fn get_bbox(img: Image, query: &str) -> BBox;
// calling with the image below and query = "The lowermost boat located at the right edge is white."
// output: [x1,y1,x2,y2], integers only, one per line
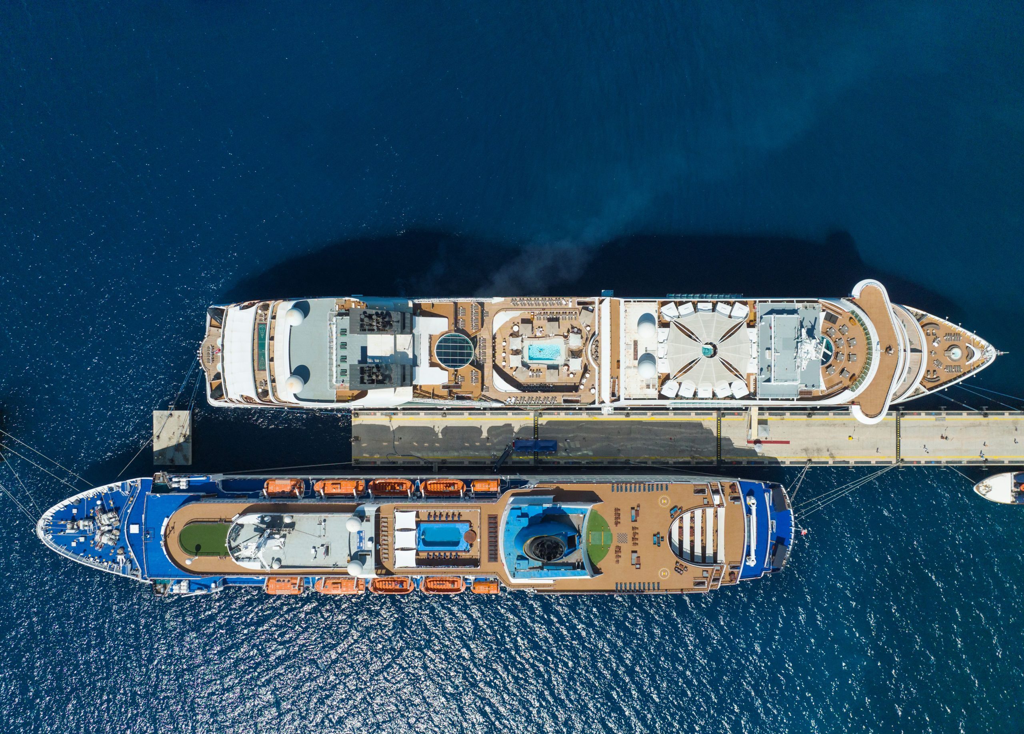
[970,471,1024,505]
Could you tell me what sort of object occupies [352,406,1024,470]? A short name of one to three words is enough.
pier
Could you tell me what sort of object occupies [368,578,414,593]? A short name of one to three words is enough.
boat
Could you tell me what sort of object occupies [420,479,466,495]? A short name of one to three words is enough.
boat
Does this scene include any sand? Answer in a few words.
No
